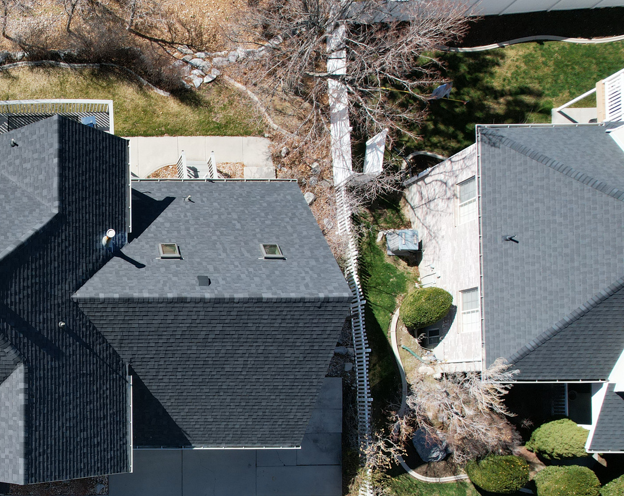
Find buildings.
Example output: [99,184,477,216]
[0,119,347,496]
[405,105,624,455]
